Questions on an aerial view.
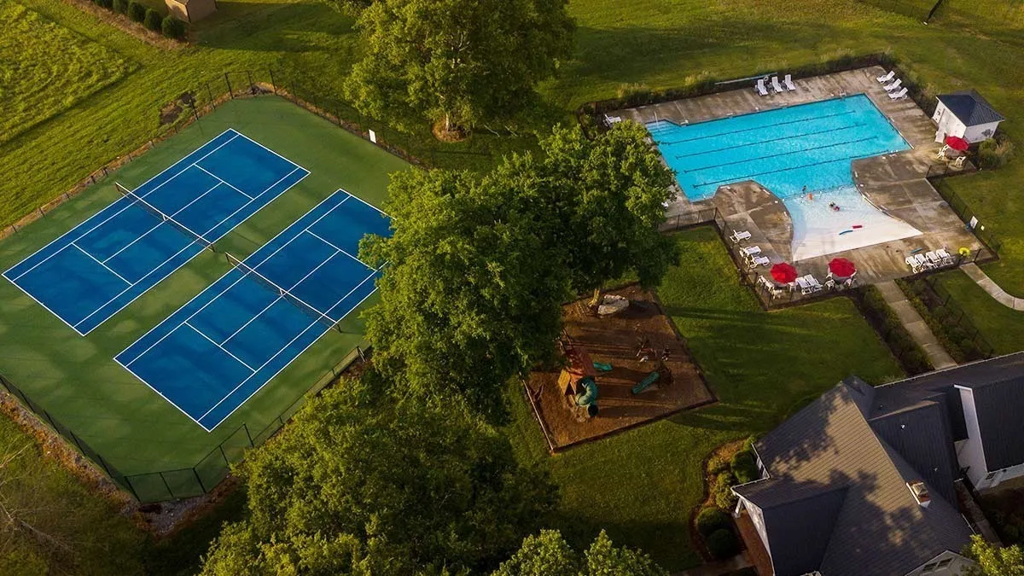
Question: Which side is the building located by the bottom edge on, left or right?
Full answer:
The building located by the bottom edge is on the right side of the image.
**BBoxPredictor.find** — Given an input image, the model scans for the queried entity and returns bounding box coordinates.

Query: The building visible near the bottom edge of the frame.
[729,351,1024,576]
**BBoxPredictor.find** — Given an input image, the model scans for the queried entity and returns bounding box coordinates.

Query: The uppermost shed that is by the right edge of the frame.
[935,88,1007,140]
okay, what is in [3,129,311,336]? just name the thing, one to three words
tennis court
